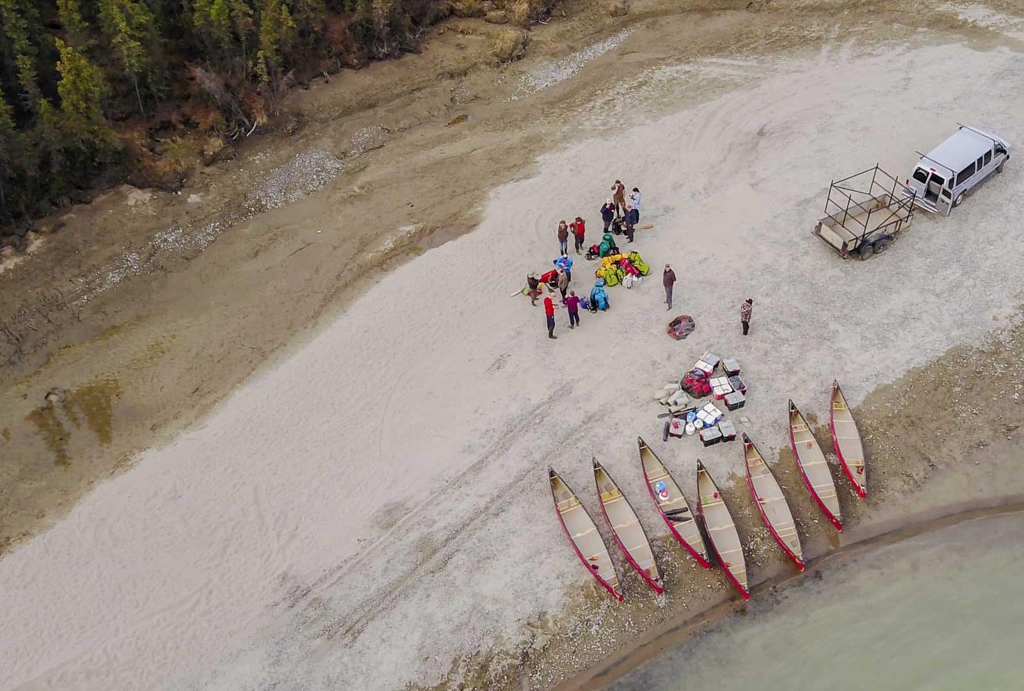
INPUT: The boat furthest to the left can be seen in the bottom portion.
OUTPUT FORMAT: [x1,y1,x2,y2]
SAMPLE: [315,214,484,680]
[550,465,624,604]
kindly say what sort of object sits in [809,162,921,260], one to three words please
trailer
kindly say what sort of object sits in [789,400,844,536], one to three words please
boat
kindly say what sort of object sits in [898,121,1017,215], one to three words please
van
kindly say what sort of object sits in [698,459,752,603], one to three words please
boat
